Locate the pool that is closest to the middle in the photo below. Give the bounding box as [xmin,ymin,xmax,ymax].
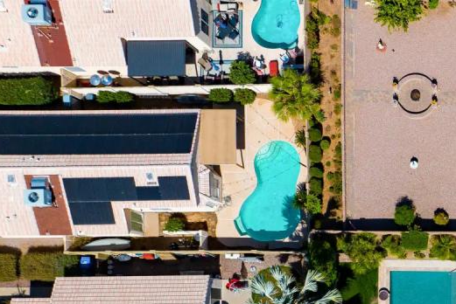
[235,137,304,245]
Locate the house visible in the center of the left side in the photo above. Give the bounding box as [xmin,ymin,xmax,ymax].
[0,109,218,239]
